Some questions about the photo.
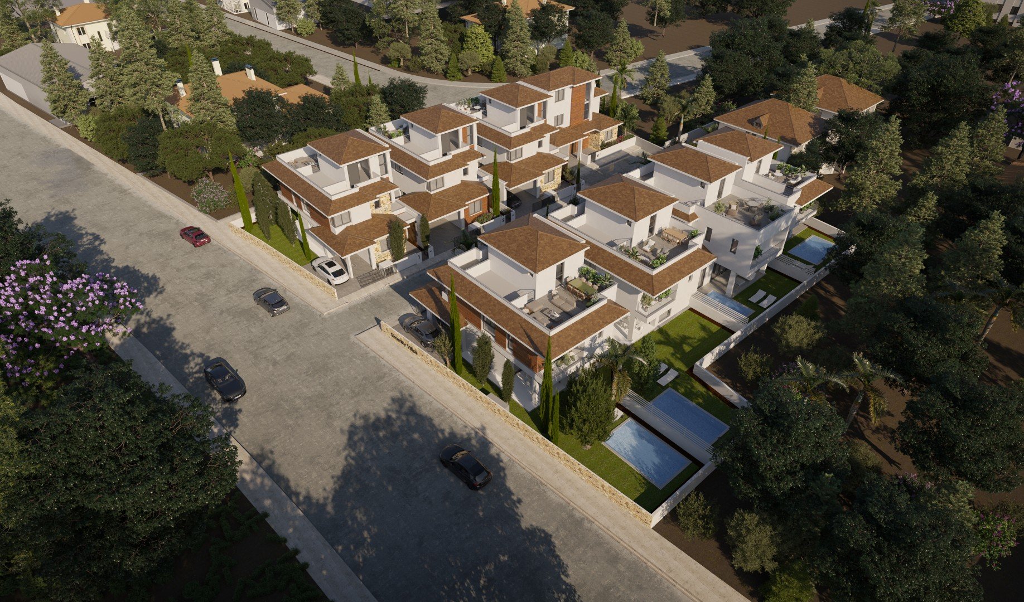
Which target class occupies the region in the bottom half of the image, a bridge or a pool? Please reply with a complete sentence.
What appears in the bottom half of the image is a pool.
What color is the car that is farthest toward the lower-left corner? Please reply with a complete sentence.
In this view, the car that is farthest toward the lower-left corner is black.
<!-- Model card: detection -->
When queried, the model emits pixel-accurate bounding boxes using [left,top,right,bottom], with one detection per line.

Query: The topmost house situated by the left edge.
[46,0,119,54]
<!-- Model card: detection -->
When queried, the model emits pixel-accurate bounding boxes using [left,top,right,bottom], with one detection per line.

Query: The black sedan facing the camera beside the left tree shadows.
[201,358,248,397]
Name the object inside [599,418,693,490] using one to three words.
swimming pool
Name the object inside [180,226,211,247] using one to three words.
car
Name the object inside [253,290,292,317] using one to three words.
car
